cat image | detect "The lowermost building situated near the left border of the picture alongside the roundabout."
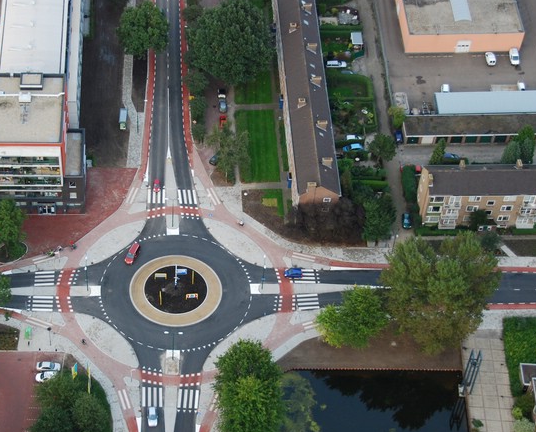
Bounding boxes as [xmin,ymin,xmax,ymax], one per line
[0,72,86,214]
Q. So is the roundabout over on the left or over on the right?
left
